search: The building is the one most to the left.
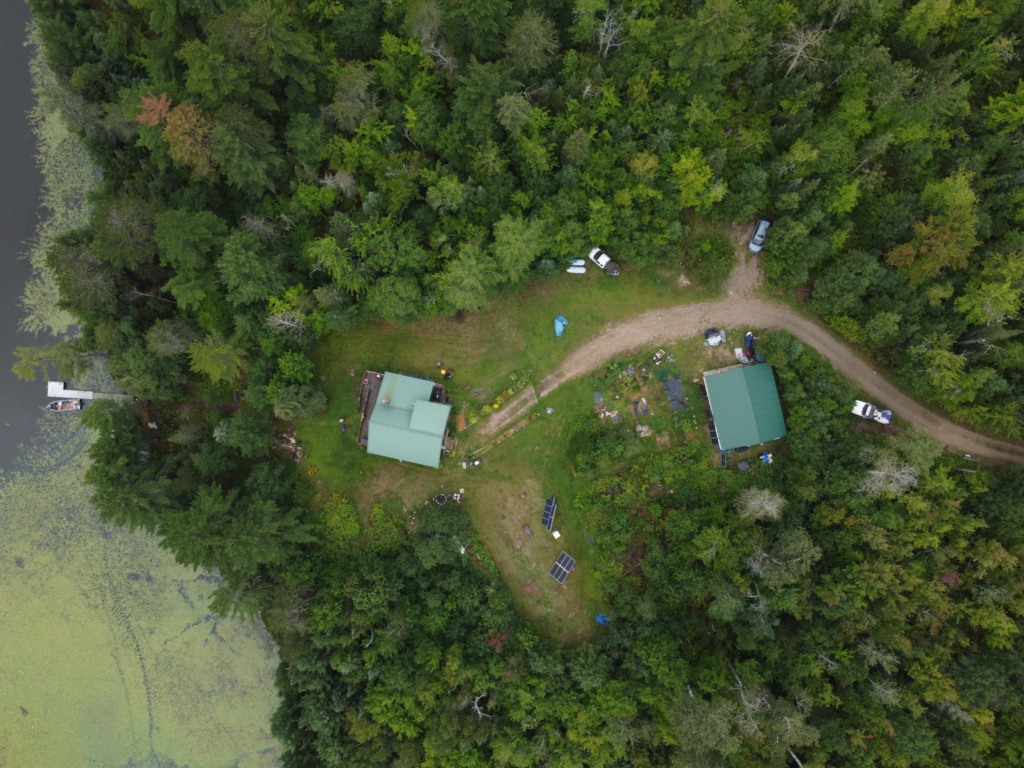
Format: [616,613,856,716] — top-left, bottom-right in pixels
[355,370,463,468]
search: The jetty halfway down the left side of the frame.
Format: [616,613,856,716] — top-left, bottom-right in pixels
[45,382,136,403]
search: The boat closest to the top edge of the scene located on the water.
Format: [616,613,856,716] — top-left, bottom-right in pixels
[45,398,87,411]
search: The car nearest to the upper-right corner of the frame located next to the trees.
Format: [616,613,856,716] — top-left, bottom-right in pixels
[746,218,772,255]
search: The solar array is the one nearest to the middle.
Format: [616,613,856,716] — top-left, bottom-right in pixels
[541,497,556,530]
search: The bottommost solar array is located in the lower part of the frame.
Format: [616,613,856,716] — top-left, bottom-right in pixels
[547,552,575,582]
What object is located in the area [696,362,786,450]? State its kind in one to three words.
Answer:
shed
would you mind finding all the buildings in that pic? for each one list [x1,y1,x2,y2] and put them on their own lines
[696,362,786,450]
[355,370,463,468]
